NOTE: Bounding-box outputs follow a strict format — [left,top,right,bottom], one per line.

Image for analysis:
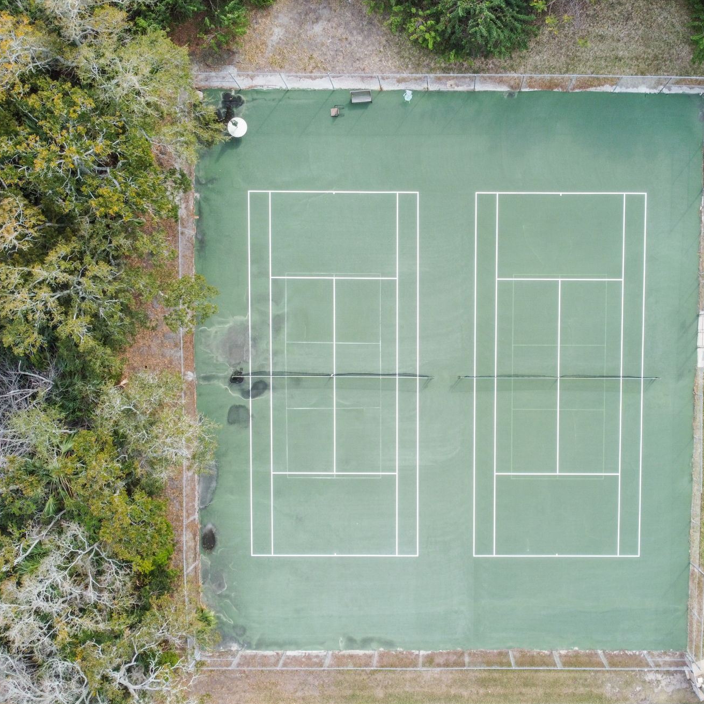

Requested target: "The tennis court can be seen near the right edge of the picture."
[472,90,704,652]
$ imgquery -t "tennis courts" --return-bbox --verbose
[472,90,704,652]
[194,89,475,652]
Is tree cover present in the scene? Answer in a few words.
Yes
